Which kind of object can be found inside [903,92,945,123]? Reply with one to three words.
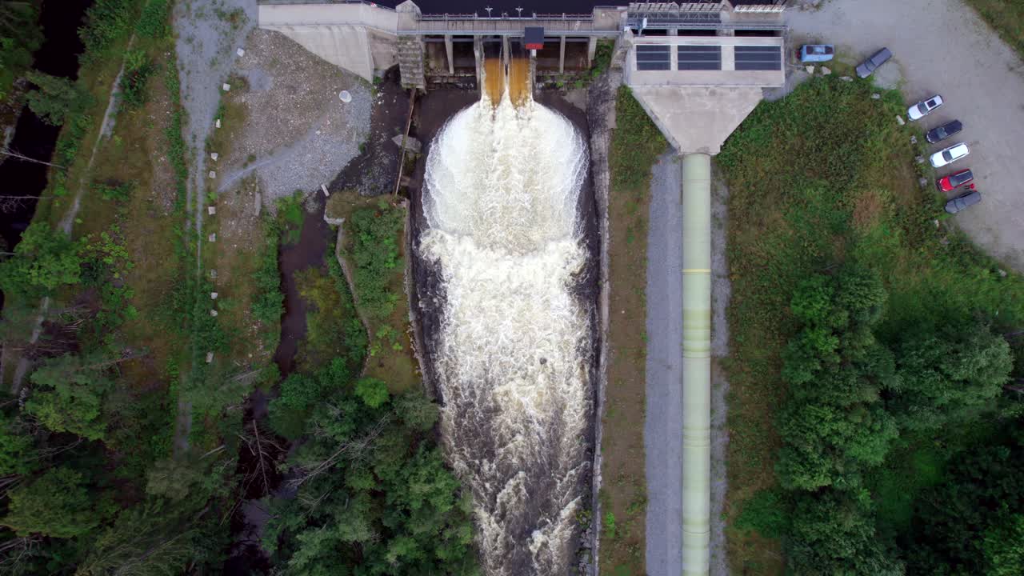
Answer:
car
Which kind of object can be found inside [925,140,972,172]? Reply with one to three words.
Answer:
car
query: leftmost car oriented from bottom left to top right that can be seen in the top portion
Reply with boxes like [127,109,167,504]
[851,45,895,81]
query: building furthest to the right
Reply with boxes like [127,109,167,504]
[615,0,791,162]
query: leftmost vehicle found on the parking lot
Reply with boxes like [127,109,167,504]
[799,45,834,63]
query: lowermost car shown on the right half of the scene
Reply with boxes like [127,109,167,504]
[939,189,983,220]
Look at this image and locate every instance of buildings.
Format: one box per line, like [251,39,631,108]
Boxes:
[524,26,544,59]
[615,0,791,162]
